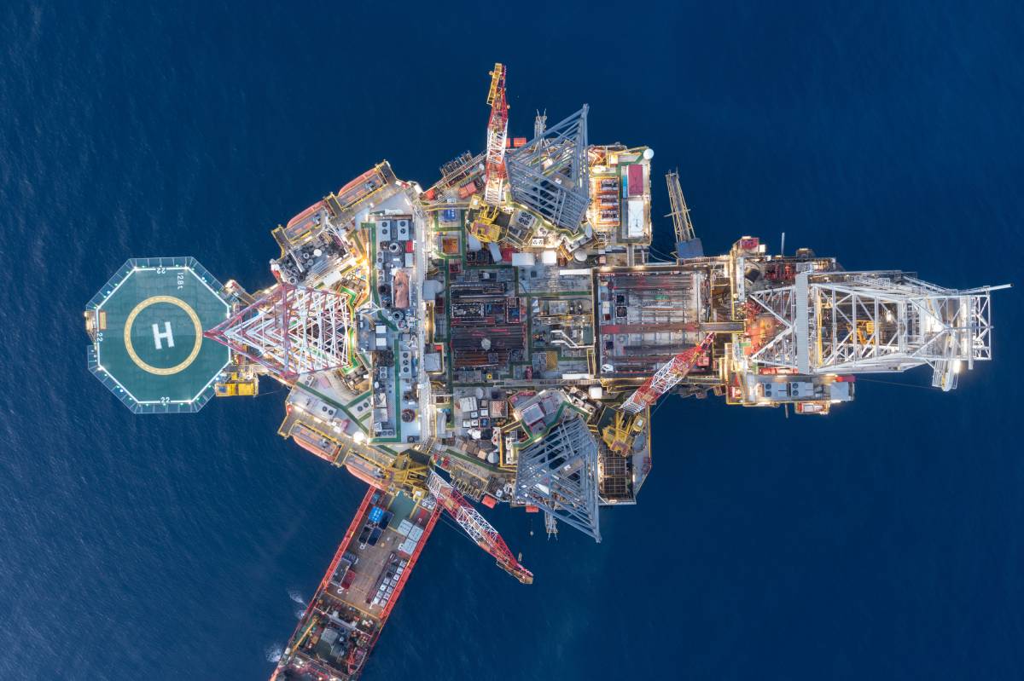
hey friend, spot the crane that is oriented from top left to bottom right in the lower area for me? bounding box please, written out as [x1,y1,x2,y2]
[387,448,534,585]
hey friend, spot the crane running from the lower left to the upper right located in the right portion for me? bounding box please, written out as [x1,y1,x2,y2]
[597,329,718,455]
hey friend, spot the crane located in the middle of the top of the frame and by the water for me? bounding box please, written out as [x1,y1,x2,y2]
[467,61,512,245]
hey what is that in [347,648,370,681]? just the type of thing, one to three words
boat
